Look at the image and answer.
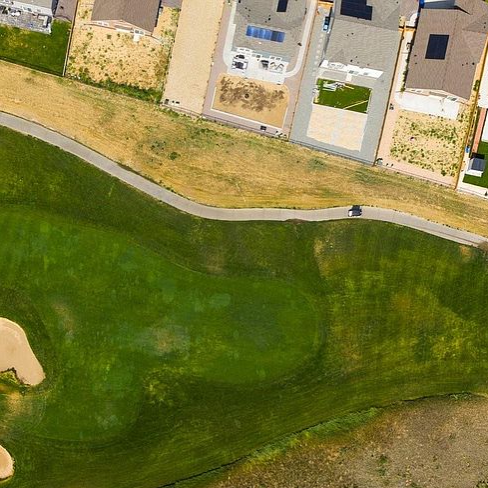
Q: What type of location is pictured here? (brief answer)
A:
golf course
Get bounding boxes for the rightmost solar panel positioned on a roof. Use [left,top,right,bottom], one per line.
[425,34,450,59]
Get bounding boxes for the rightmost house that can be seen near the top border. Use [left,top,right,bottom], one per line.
[400,0,488,105]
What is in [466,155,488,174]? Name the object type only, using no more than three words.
shed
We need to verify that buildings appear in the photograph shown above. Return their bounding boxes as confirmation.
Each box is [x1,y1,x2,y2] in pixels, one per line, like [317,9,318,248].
[320,0,397,78]
[400,0,488,105]
[0,0,54,16]
[230,0,304,67]
[90,0,159,39]
[466,155,488,174]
